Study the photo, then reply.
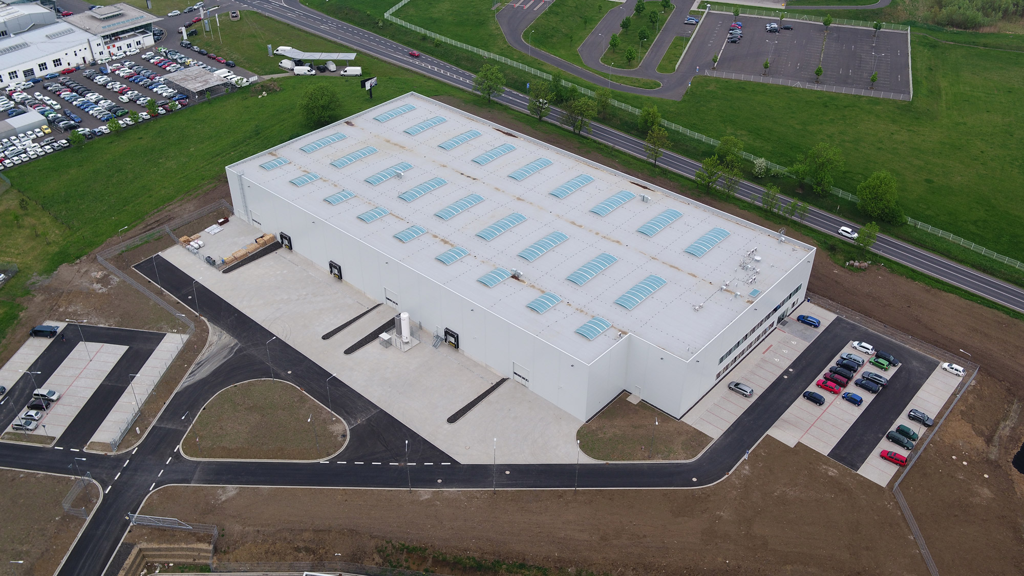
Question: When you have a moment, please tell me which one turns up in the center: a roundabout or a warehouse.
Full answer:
It is a warehouse that can be seen in the center.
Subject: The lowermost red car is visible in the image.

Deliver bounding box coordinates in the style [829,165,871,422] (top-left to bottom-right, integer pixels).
[880,451,907,468]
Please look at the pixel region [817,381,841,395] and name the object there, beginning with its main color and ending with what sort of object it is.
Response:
red car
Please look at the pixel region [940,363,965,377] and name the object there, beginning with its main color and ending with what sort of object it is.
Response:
white car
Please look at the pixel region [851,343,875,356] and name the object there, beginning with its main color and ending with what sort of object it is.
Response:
white vehicle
